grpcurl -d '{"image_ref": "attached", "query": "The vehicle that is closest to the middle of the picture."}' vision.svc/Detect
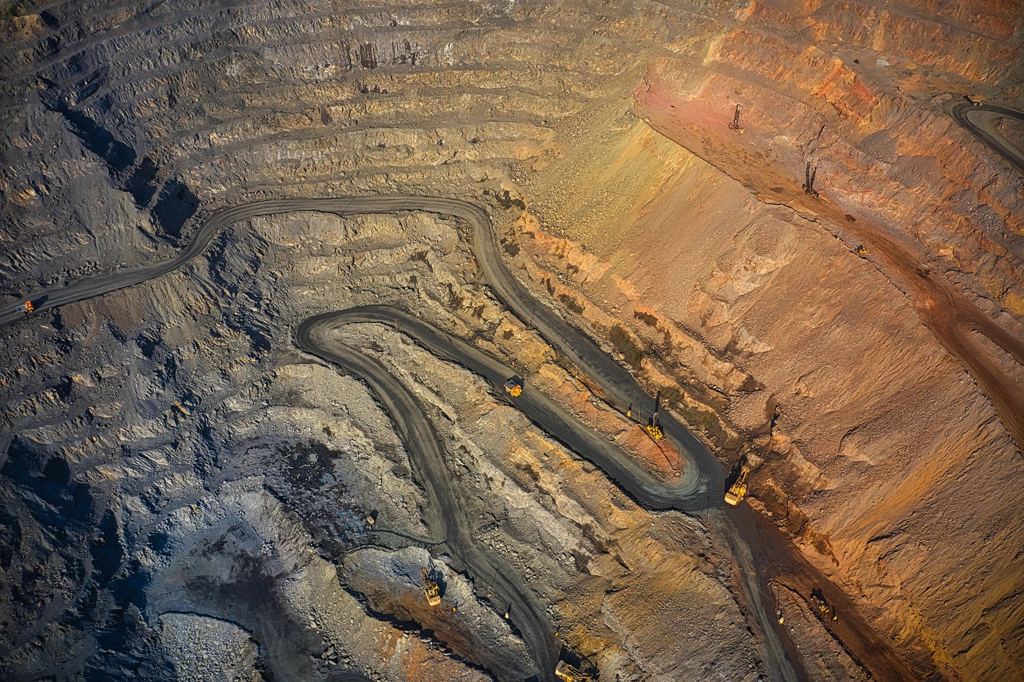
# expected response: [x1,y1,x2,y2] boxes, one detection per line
[503,377,521,395]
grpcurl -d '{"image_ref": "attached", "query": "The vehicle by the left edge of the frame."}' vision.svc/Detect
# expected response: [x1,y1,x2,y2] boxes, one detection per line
[13,299,34,313]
